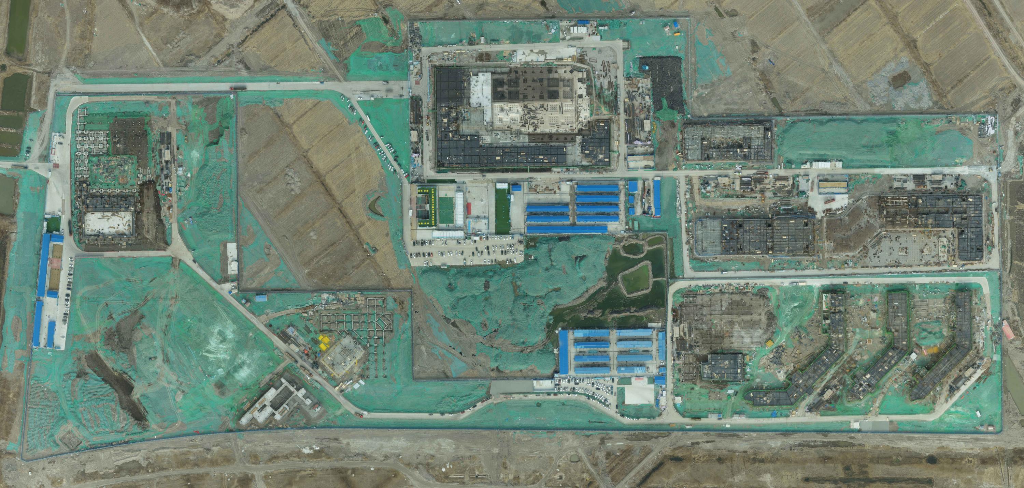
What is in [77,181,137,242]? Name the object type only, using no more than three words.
building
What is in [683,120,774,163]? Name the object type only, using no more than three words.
building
